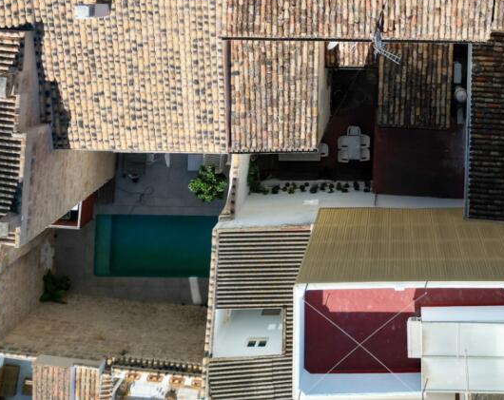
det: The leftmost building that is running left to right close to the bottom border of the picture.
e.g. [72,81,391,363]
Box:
[32,364,120,400]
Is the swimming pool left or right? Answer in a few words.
left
